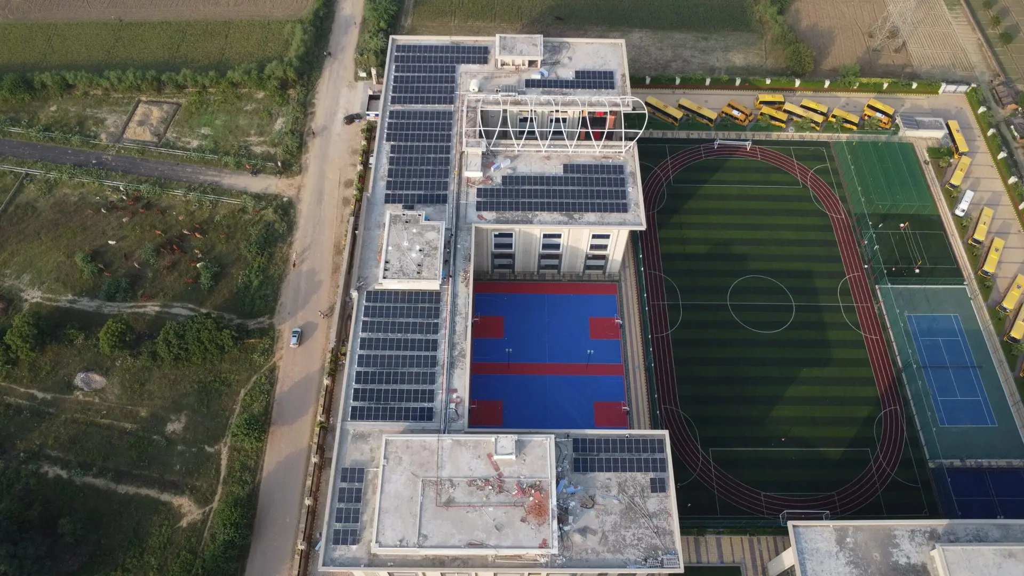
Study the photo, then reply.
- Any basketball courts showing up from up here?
Yes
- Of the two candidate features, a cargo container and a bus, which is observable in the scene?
bus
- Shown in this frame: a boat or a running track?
running track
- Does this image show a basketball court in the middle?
Yes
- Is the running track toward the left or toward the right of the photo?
right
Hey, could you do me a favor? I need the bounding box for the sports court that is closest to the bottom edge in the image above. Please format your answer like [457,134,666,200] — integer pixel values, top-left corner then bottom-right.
[929,468,1024,523]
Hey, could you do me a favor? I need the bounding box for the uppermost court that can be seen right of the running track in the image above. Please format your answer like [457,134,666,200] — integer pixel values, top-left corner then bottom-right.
[906,314,997,426]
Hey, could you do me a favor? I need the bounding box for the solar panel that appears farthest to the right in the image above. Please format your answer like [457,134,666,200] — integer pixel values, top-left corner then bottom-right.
[903,115,924,131]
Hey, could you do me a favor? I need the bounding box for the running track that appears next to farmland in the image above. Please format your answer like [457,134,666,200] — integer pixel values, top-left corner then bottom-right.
[642,145,904,518]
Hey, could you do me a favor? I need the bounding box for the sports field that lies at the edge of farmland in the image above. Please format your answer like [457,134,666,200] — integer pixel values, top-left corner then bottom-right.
[627,138,943,528]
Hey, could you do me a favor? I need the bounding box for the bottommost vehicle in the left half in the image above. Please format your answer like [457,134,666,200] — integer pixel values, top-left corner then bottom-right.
[290,327,302,349]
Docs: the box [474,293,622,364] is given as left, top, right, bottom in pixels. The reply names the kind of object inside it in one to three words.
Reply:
basketball court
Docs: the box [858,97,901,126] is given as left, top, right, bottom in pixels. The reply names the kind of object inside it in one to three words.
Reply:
bus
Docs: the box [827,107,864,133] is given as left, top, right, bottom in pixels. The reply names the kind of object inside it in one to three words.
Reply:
bus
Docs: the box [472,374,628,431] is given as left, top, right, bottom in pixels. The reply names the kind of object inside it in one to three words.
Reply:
basketball court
